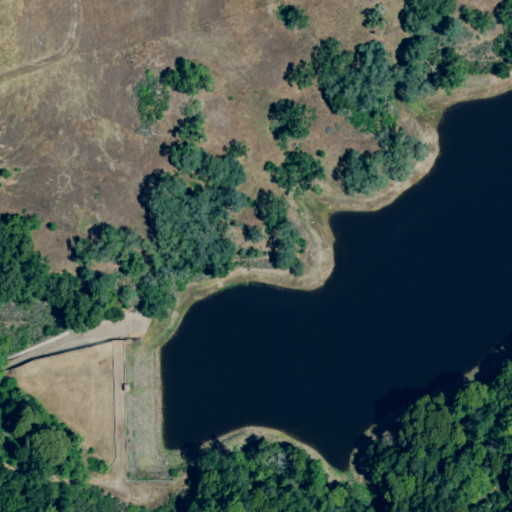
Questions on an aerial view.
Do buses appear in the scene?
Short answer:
No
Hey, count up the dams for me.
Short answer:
1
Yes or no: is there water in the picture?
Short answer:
Yes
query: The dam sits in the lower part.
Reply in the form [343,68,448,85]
[8,340,173,482]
